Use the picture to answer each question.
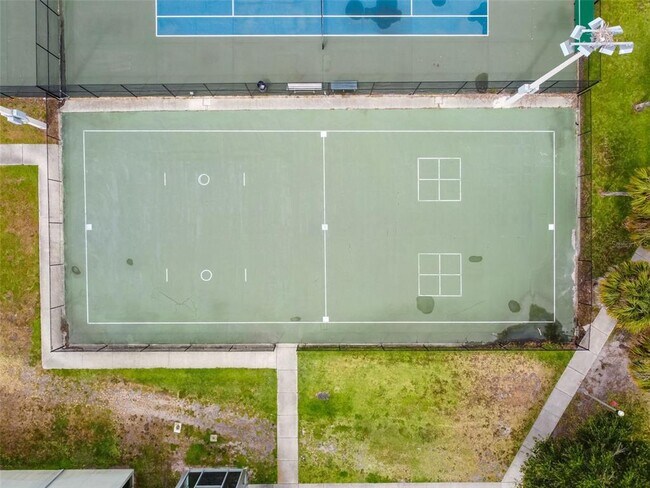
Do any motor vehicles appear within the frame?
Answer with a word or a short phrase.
No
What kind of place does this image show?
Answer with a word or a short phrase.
sports ground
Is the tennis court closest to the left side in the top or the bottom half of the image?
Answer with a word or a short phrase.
top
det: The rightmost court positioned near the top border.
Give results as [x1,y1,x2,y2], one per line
[60,0,578,96]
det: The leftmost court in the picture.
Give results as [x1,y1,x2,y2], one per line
[0,0,60,98]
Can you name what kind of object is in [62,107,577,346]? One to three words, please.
sports court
